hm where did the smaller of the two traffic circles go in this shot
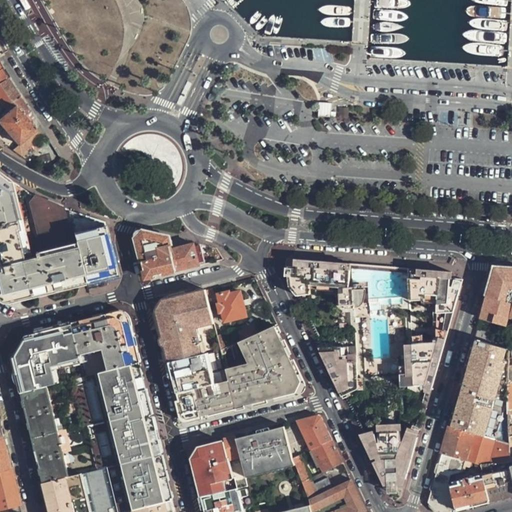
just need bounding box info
[195,10,244,59]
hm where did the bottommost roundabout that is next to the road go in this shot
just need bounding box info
[96,112,206,222]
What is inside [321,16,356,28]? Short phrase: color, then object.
white boat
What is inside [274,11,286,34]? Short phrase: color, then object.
white boat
